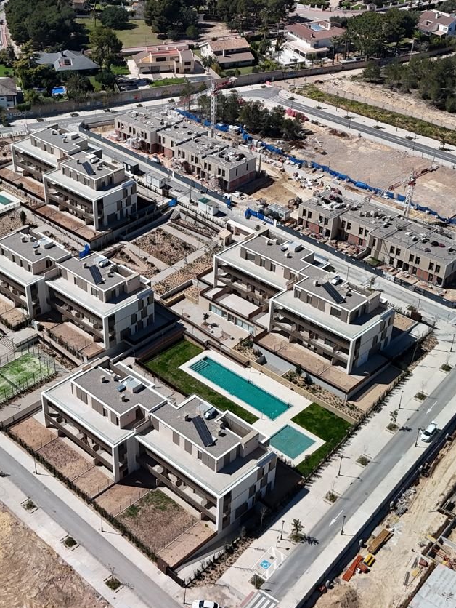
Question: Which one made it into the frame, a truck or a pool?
pool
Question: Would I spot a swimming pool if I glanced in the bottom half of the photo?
Yes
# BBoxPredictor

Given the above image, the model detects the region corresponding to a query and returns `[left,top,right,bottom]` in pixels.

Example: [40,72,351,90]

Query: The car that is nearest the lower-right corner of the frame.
[421,423,437,439]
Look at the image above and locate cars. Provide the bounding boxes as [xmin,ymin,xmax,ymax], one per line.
[421,423,437,439]
[192,600,219,608]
